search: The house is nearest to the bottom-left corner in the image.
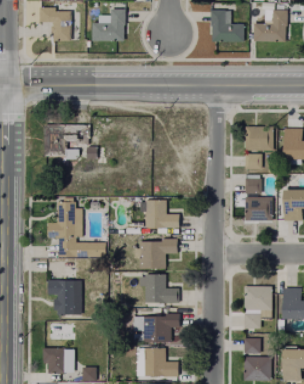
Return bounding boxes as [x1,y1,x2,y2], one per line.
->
[44,348,76,374]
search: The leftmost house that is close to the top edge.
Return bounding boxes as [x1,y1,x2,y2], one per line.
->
[40,8,72,41]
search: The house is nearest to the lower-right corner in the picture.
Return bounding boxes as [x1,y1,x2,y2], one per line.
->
[282,346,304,382]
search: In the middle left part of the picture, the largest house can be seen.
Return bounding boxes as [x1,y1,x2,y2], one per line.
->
[48,202,108,257]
